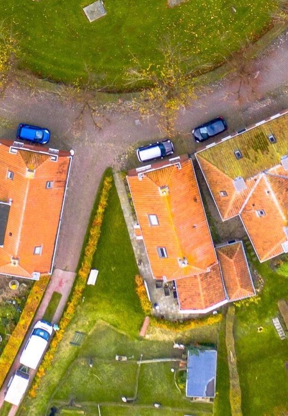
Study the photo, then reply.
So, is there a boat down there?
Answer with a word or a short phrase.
No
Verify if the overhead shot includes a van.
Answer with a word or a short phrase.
Yes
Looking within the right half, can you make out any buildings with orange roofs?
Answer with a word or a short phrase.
Yes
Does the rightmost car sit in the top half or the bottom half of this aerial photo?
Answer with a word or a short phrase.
top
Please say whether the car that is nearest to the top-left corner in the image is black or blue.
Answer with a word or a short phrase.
blue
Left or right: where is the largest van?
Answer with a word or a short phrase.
left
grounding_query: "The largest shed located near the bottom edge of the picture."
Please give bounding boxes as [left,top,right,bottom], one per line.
[184,345,218,398]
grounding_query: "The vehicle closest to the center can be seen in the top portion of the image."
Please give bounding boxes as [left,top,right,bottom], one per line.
[137,140,175,160]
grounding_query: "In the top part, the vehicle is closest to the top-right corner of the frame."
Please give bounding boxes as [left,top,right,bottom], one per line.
[192,116,228,140]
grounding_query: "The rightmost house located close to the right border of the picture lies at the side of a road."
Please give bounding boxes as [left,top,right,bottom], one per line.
[194,109,288,263]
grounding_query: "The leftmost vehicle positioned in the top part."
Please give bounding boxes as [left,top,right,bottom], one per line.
[17,122,51,144]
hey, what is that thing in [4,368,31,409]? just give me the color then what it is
white trailer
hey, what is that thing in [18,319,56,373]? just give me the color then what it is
white van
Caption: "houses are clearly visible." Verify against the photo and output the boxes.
[194,109,288,263]
[126,157,256,314]
[0,139,73,279]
